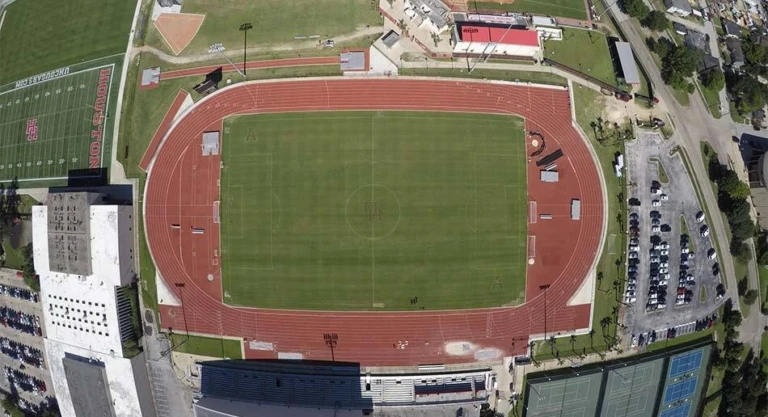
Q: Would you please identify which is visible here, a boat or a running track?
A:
running track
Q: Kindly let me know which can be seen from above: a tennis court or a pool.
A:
tennis court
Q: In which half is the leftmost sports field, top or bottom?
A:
top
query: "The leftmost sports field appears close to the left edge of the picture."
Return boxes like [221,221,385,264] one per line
[0,52,125,190]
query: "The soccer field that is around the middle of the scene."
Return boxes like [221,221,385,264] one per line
[219,110,529,312]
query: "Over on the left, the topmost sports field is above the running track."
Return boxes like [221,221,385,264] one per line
[153,13,206,56]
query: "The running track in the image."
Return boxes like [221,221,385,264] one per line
[142,76,607,367]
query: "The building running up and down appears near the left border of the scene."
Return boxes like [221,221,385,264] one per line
[32,192,157,417]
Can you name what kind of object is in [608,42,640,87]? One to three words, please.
shed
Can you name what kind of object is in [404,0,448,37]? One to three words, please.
building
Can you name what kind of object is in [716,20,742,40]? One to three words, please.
house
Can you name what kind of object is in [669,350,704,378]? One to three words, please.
tennis court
